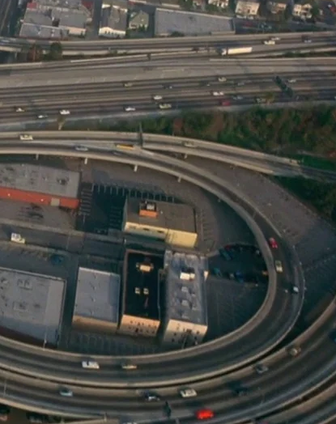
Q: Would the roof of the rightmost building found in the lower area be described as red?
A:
No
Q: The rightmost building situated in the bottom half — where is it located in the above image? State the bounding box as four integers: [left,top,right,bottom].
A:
[160,251,214,345]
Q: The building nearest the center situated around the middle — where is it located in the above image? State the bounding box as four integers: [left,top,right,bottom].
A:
[121,194,198,247]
